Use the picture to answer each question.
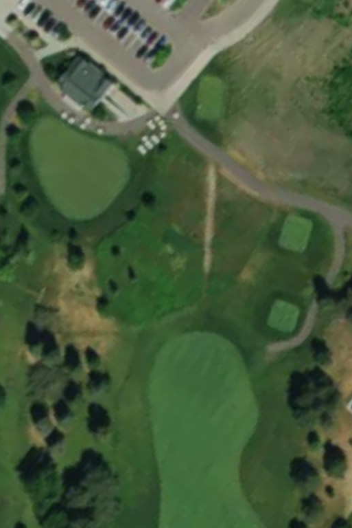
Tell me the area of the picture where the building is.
top left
